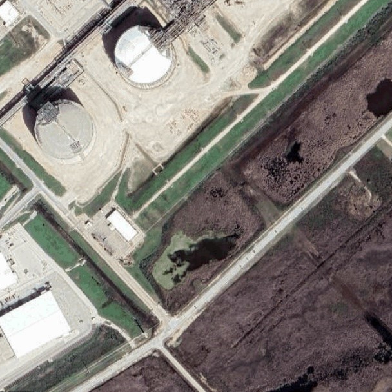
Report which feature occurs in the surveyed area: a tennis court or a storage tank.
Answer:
storage tank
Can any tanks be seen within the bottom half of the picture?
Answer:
No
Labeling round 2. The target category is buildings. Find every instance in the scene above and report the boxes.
[0,1,19,27]
[106,210,137,242]
[0,290,71,360]
[0,252,17,290]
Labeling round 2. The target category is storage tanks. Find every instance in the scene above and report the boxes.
[114,26,176,90]
[34,101,97,165]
